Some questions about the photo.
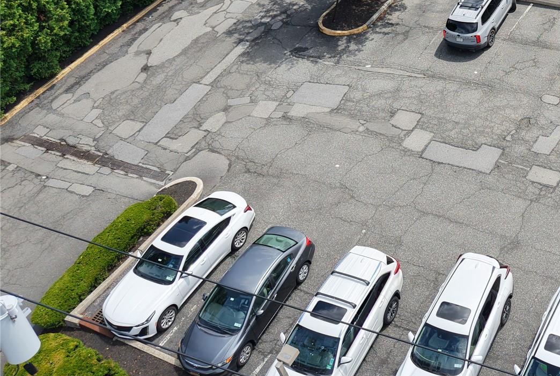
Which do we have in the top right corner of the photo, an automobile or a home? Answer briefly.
automobile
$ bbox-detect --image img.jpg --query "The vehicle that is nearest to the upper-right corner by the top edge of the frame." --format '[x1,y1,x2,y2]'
[440,0,518,55]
